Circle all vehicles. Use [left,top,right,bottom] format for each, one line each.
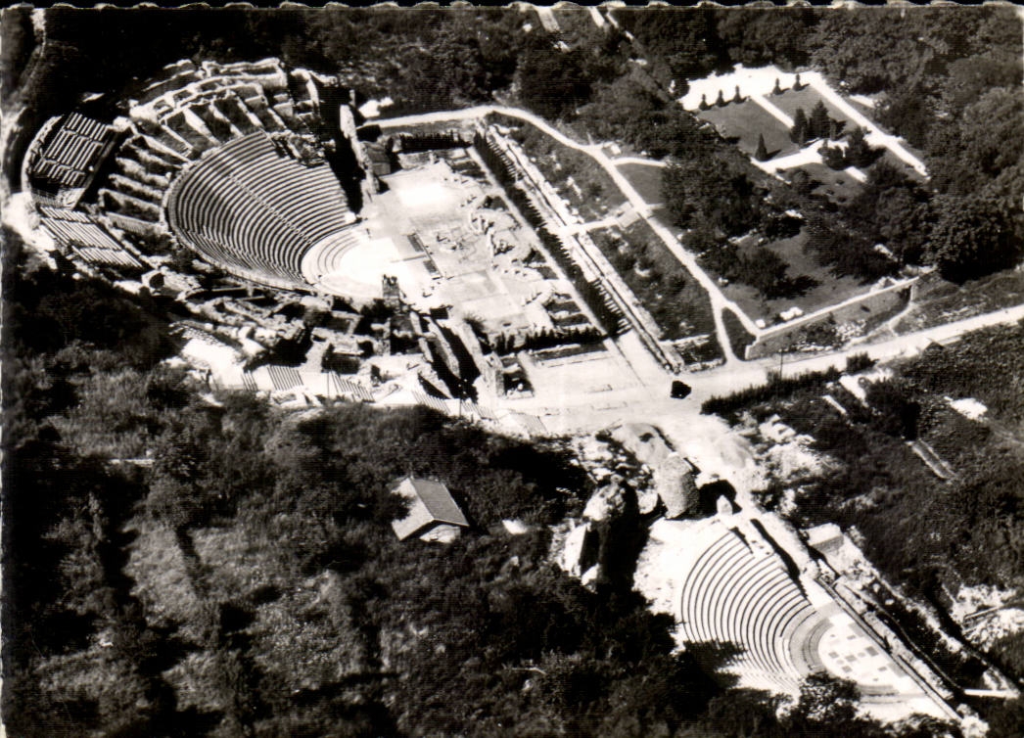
[670,377,693,396]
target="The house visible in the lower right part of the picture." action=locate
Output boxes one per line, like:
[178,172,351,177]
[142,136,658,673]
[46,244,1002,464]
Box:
[804,525,844,560]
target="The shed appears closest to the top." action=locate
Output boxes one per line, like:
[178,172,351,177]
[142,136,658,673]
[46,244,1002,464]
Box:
[360,117,381,143]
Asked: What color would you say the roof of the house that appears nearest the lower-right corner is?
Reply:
white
